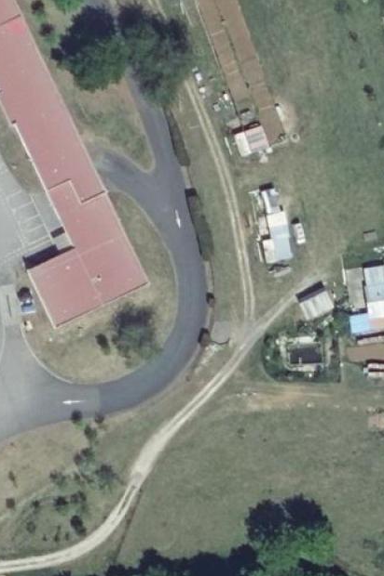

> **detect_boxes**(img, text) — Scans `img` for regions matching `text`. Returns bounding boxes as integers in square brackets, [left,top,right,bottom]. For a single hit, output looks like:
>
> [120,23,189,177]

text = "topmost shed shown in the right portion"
[234,127,270,157]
